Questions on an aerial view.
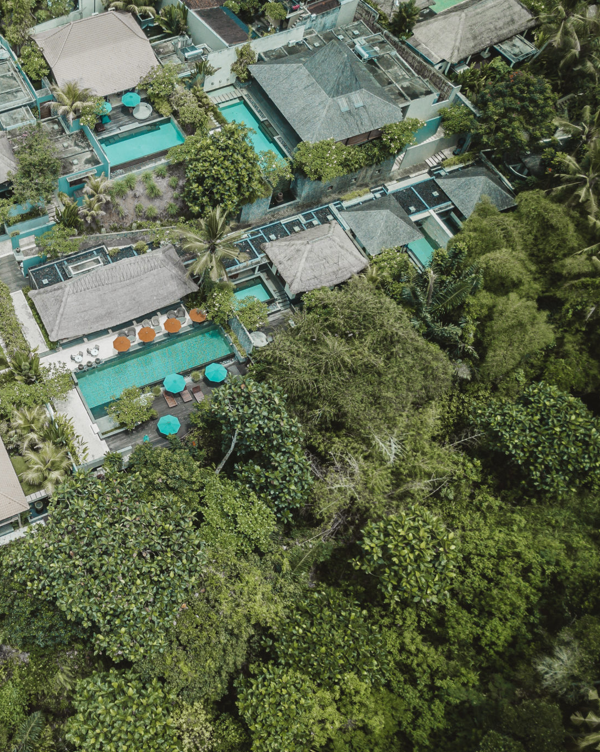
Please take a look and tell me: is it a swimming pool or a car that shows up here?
swimming pool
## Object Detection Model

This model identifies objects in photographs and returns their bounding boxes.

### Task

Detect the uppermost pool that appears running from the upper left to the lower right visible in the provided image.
[215,95,292,181]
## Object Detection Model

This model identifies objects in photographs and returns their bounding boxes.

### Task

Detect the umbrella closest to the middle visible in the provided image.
[205,364,226,385]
